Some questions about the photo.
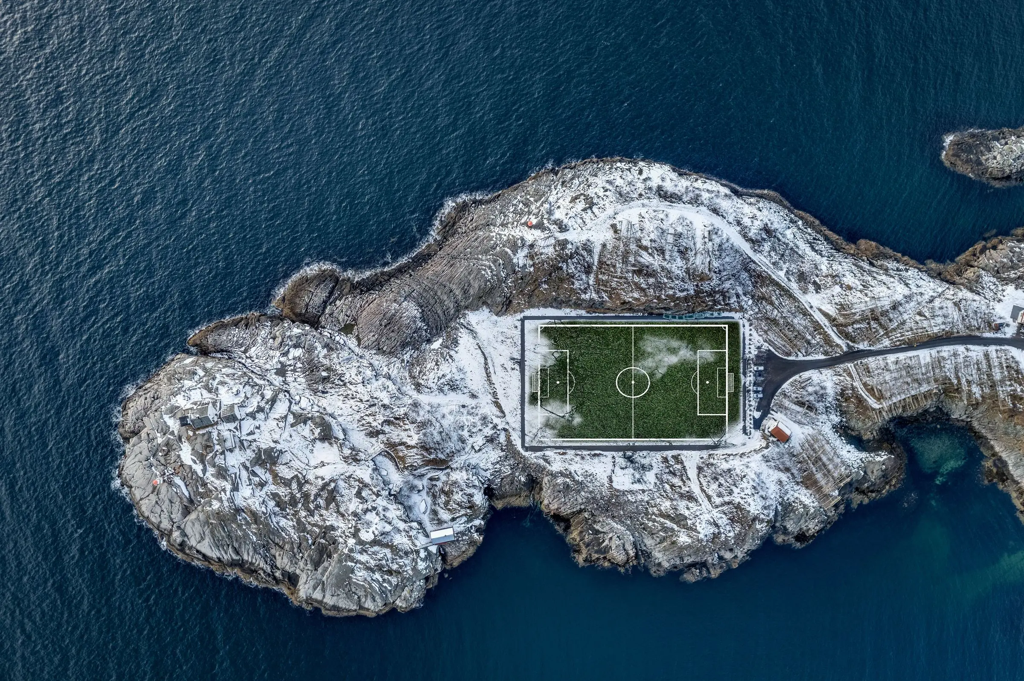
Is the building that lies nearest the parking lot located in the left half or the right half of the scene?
right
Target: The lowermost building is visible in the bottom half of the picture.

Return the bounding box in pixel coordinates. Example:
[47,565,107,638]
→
[429,526,456,544]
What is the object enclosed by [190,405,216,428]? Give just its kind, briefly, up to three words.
building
